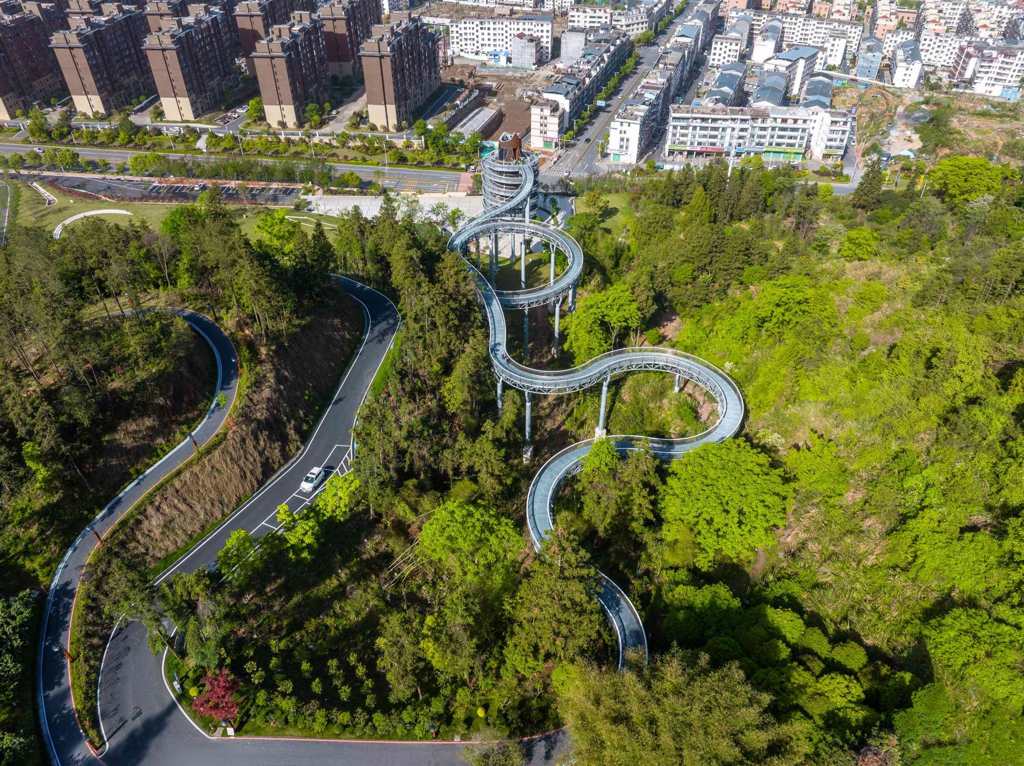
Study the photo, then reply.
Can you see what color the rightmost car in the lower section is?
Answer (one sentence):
The color of the rightmost car in the lower section is white.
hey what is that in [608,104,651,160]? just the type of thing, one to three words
building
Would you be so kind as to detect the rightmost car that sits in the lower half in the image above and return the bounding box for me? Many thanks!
[298,463,327,491]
